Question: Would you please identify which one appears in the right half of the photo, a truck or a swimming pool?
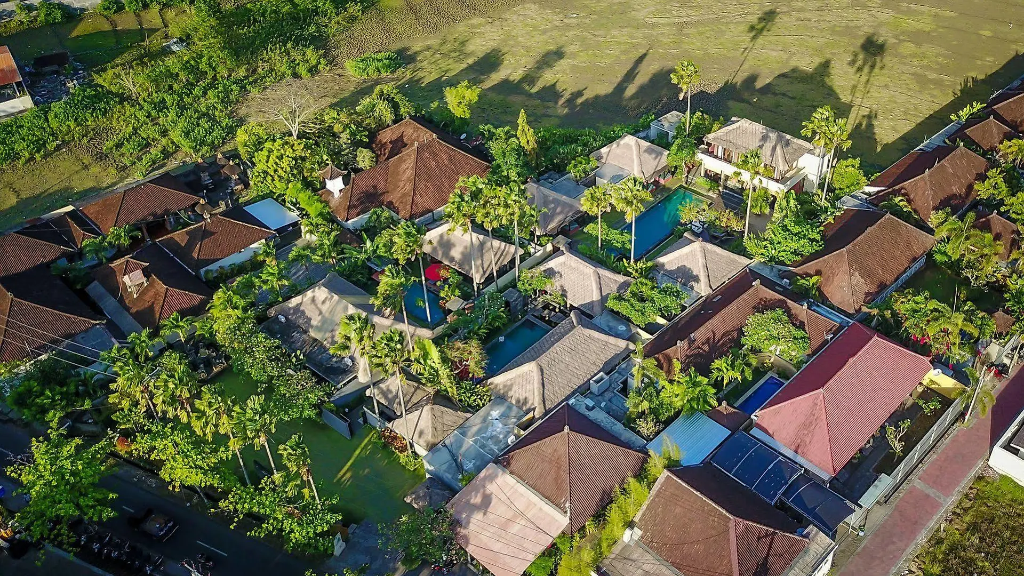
swimming pool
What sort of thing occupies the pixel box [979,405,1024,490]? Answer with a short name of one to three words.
building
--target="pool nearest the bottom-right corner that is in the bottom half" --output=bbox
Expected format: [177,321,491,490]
[735,371,788,415]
